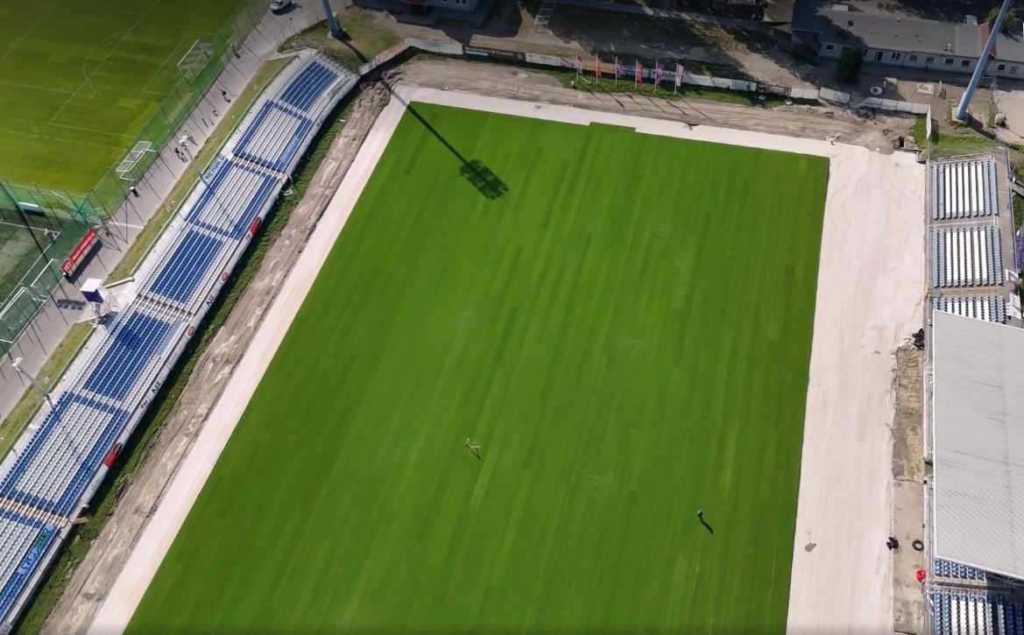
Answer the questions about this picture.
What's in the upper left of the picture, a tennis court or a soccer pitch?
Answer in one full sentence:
Looking in the upper left of the picture, you will find a soccer pitch.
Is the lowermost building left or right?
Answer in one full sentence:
The lowermost building is on the left side of the image.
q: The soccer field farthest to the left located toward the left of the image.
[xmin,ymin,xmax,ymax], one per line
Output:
[0,210,94,351]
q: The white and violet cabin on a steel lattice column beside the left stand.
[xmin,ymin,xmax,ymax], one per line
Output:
[79,278,118,325]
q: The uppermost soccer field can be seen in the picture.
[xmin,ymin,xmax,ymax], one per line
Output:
[0,0,249,207]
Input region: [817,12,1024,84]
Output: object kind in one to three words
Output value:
building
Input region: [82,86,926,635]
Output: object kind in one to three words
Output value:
sports field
